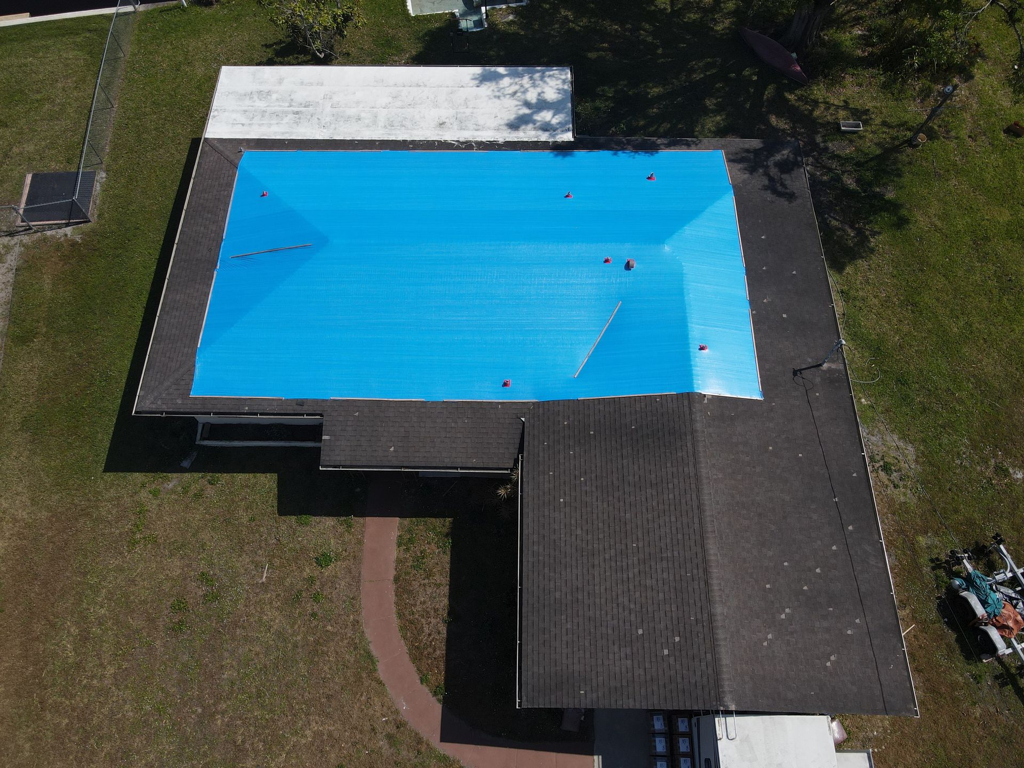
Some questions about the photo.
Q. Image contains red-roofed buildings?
No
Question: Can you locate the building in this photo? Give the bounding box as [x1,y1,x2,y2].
[132,66,918,717]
